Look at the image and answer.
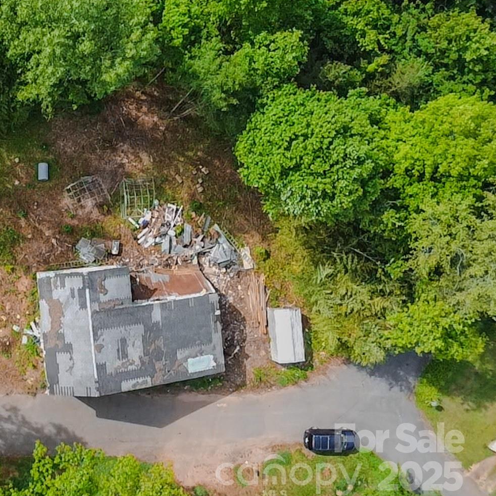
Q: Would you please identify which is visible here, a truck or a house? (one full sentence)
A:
Of the two, only a house appears.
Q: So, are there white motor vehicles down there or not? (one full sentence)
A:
No, I can't see a single white motor vehicle in this photo.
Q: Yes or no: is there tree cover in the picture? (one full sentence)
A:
Yes, there's tree cover in this view.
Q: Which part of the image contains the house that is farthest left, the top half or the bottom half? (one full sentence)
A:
It is in the bottom half that the house that is farthest left appears.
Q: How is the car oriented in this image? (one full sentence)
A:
In this picture, the car is oriented horizontally.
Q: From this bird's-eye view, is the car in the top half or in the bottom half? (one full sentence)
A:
It is in the bottom half that the car appears.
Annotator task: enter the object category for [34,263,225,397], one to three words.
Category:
house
